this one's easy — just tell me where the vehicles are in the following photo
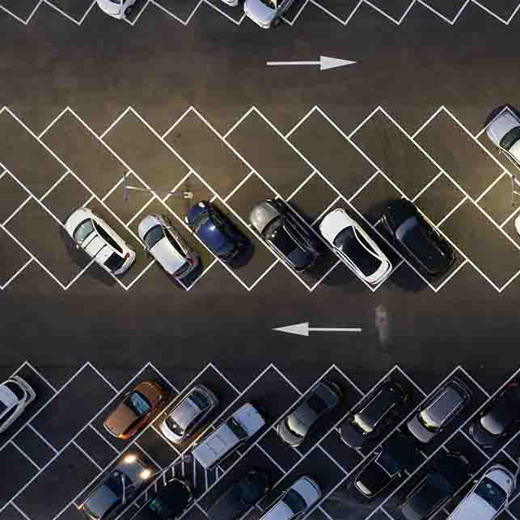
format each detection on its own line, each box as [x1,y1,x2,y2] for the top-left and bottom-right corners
[100,378,170,445]
[396,451,471,520]
[203,465,274,520]
[246,0,296,30]
[67,208,140,277]
[99,0,142,21]
[444,465,519,520]
[277,377,347,450]
[488,113,520,174]
[137,213,202,282]
[187,401,267,472]
[0,374,42,437]
[158,382,225,447]
[250,200,328,278]
[256,474,325,520]
[187,202,252,268]
[378,196,457,283]
[121,476,195,520]
[469,377,520,450]
[350,431,422,505]
[74,456,150,520]
[338,376,413,451]
[321,208,395,287]
[408,374,476,445]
